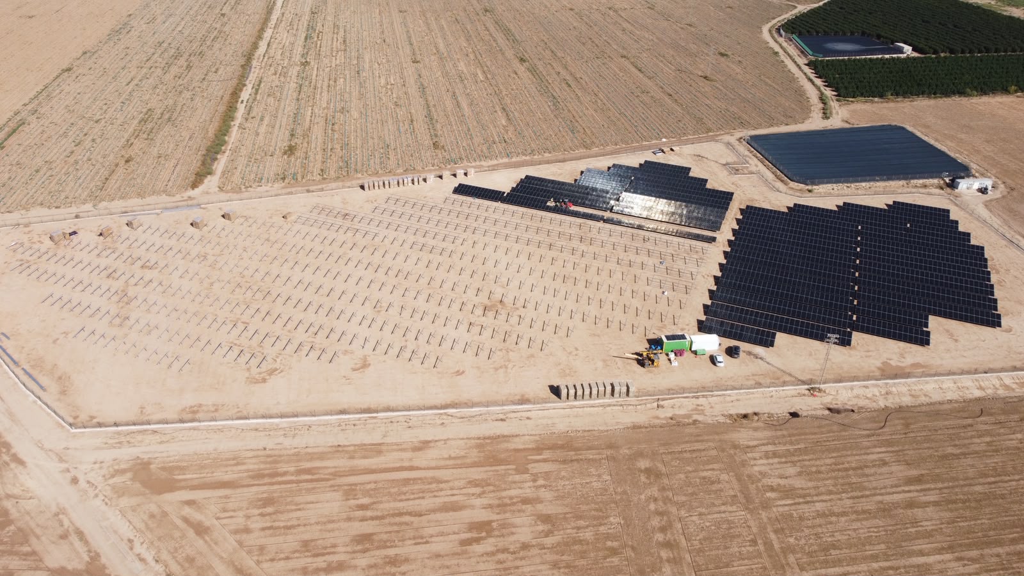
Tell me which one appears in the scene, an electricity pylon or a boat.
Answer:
electricity pylon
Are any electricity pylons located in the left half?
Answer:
No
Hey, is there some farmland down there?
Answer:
Yes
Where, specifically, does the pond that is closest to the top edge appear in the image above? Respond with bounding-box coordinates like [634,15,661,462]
[789,35,907,61]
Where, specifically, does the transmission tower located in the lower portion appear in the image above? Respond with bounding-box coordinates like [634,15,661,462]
[815,335,842,389]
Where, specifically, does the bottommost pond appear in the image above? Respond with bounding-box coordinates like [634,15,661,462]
[737,124,978,192]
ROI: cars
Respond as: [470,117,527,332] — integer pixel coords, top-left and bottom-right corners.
[730,342,742,359]
[711,352,724,367]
